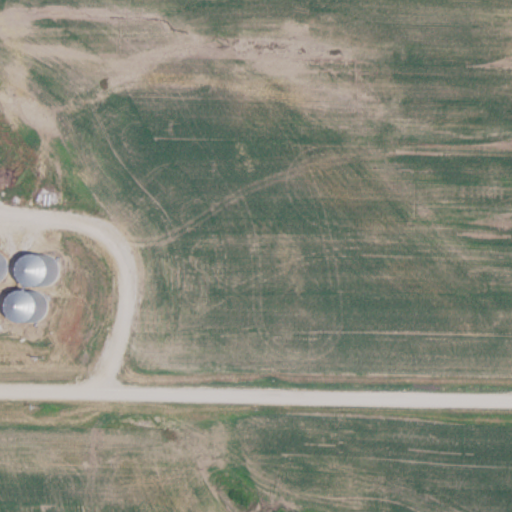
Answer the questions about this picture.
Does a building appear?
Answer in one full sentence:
No, there is no building in the image.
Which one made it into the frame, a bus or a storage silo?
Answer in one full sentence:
Of the two, only a storage silo appears.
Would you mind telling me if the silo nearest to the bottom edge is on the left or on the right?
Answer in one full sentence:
You can find the silo nearest to the bottom edge on the left side of the picture.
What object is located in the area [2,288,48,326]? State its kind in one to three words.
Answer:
silo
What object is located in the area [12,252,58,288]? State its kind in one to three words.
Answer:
silo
